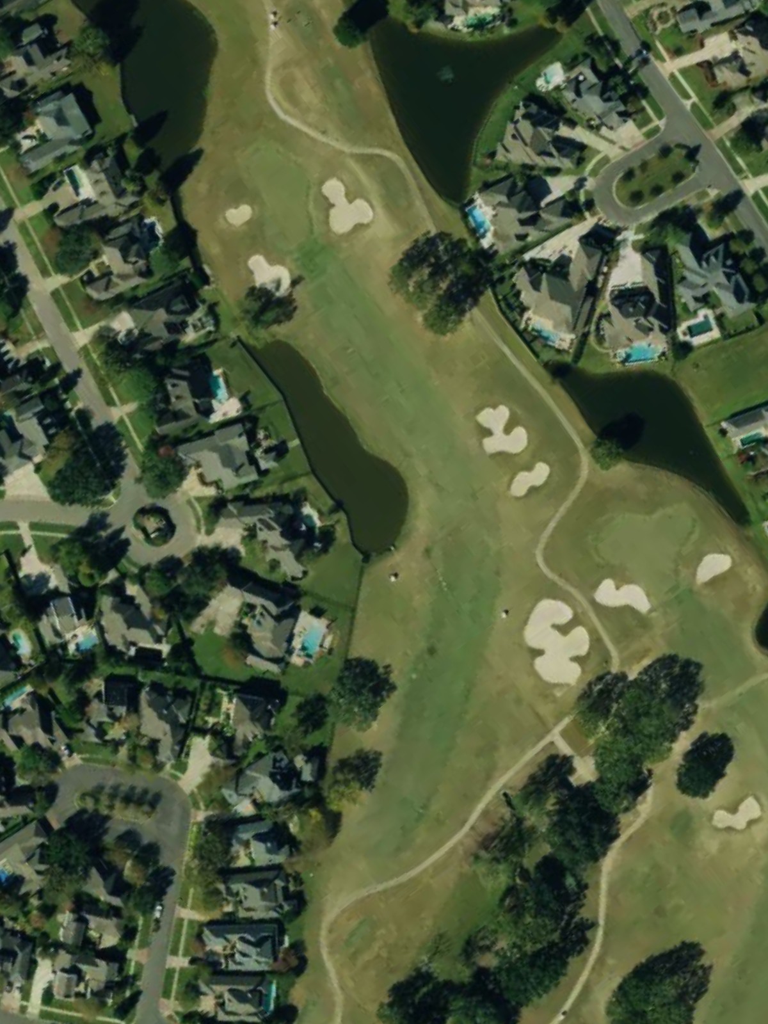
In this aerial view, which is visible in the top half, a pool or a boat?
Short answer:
pool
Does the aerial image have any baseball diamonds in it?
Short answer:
No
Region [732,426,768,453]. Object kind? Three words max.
swimming pool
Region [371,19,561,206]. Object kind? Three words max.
pond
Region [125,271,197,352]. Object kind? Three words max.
house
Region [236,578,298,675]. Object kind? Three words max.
house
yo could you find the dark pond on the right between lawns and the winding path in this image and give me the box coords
[556,369,748,523]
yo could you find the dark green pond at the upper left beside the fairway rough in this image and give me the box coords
[70,0,217,165]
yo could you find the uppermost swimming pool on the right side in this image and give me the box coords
[451,9,502,31]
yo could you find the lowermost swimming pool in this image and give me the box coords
[262,979,276,1014]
